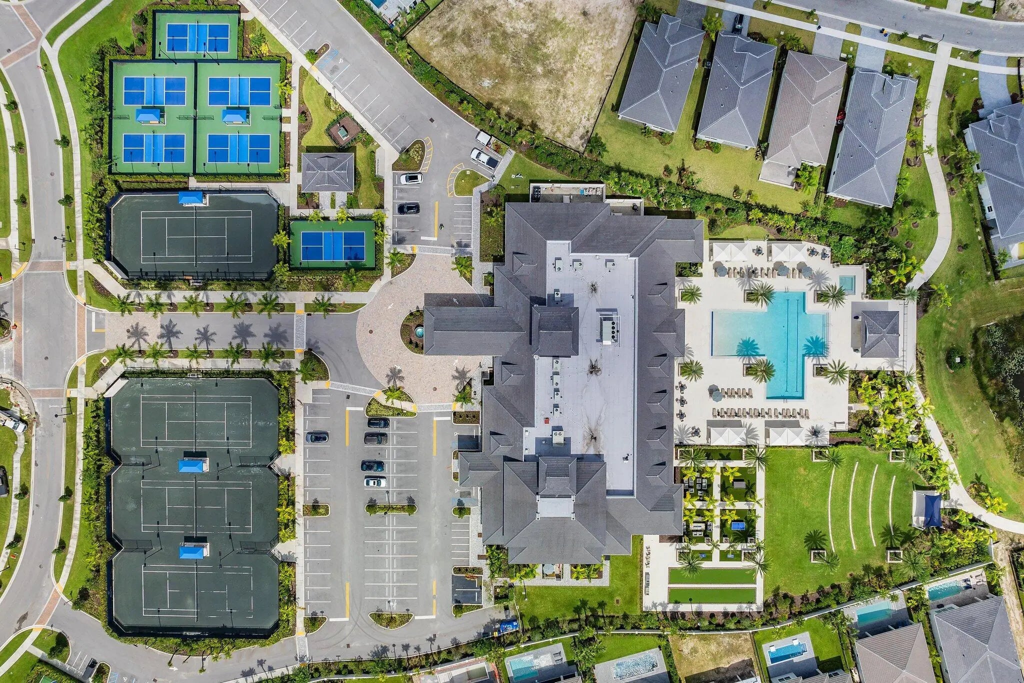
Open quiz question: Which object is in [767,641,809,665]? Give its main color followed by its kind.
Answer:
blue swimming pool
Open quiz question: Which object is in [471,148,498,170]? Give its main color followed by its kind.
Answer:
white truck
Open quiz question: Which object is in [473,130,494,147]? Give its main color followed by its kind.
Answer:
white vehicle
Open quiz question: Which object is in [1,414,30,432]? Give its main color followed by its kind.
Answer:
white vehicle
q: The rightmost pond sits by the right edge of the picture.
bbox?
[981,322,1024,463]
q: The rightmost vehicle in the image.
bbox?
[733,13,746,36]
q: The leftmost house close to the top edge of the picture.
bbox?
[618,13,705,133]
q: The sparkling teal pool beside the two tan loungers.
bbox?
[926,578,962,601]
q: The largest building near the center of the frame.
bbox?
[423,202,704,564]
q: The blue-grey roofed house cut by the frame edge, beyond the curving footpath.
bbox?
[962,101,1024,238]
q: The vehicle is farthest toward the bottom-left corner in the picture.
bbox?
[81,655,101,681]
